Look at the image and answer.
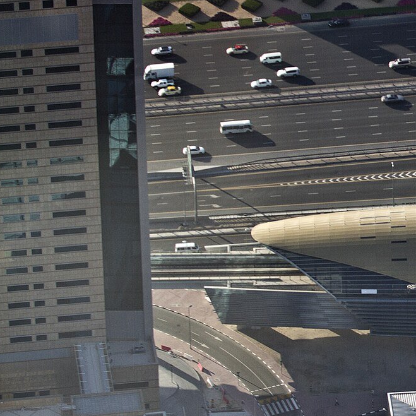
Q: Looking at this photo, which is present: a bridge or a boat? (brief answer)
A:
bridge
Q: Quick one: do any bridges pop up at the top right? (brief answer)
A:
No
